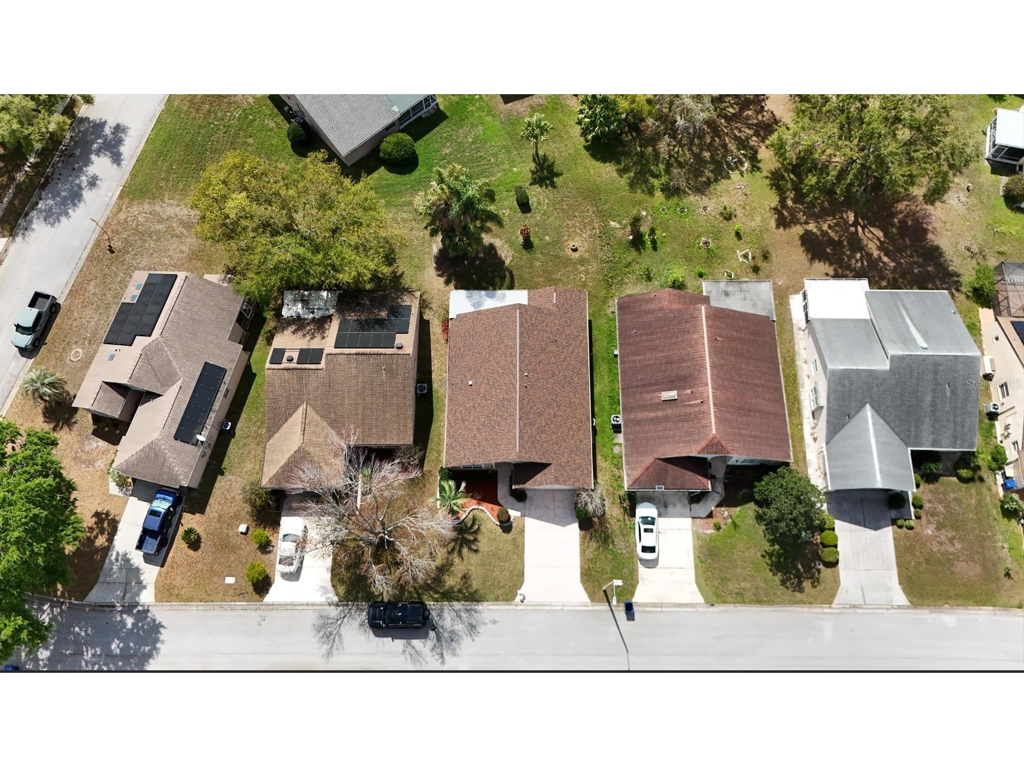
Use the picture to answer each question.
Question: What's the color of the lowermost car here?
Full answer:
The lowermost car looks black in the image.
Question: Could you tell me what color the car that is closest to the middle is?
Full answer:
The color of the car that is closest to the middle is white.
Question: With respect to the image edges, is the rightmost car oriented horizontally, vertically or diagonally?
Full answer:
The rightmost car has been laid out vertically relative to the frame.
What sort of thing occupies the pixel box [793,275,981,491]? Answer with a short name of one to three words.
house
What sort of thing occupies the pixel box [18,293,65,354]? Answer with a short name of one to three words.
truck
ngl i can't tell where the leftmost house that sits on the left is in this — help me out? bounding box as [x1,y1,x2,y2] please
[73,271,255,488]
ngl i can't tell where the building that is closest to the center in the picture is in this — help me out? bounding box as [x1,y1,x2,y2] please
[445,285,593,490]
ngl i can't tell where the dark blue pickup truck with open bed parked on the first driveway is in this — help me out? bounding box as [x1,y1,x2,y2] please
[135,488,183,563]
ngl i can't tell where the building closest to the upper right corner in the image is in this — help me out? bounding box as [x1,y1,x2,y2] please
[984,81,1024,172]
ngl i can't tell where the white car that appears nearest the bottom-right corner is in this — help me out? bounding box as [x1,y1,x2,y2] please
[635,504,661,563]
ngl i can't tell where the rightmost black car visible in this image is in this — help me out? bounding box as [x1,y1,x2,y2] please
[369,602,430,632]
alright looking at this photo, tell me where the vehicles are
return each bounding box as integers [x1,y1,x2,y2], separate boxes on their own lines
[635,504,661,563]
[18,293,65,354]
[278,516,306,577]
[135,488,183,563]
[369,602,430,632]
